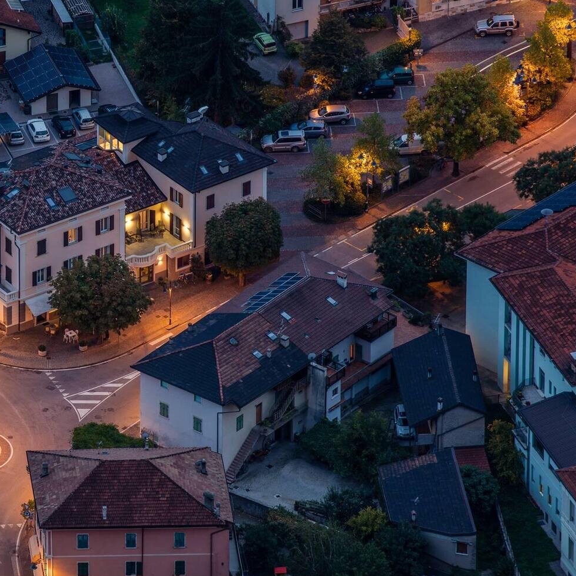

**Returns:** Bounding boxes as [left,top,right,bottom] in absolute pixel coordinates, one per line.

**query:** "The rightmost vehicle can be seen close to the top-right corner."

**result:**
[473,10,522,37]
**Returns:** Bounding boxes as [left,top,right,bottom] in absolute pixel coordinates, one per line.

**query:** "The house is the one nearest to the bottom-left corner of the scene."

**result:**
[23,446,233,576]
